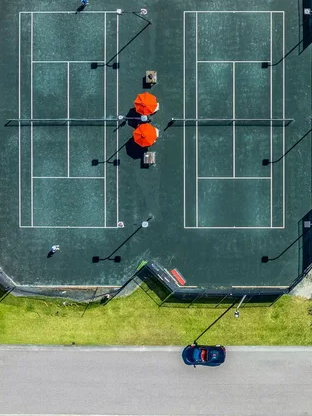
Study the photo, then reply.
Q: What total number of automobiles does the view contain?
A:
1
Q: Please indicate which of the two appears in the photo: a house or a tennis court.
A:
tennis court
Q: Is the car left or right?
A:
right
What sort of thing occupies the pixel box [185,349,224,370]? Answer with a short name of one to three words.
car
